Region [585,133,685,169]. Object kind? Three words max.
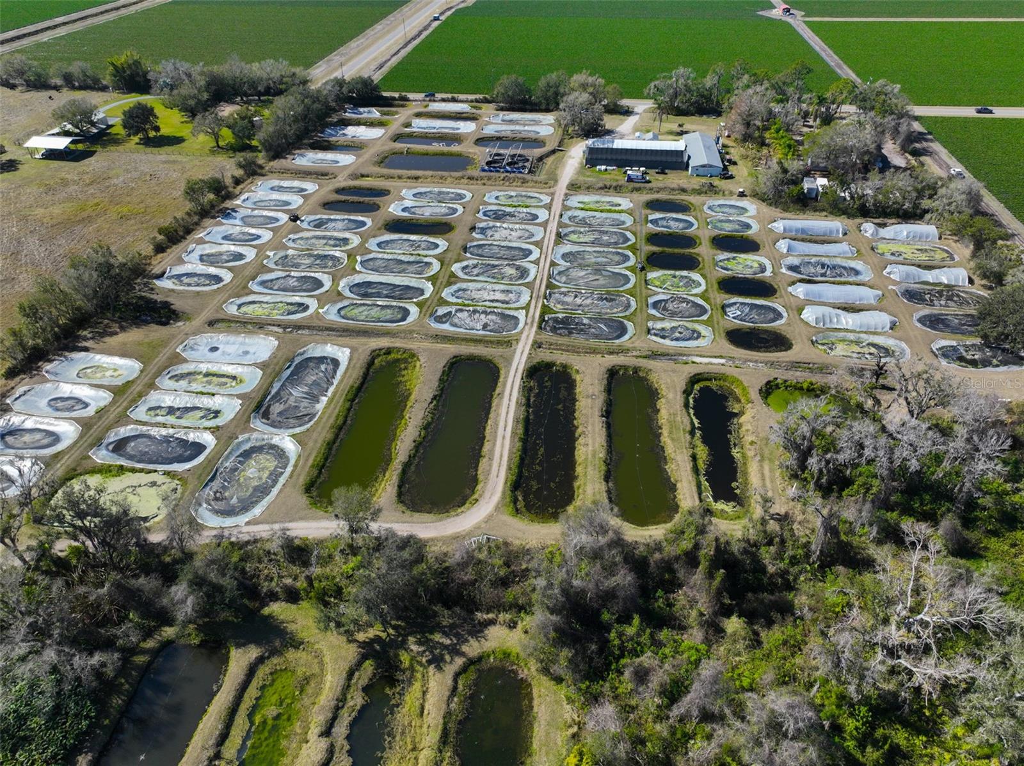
greenhouse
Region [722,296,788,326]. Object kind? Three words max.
pond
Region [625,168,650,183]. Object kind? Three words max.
vehicle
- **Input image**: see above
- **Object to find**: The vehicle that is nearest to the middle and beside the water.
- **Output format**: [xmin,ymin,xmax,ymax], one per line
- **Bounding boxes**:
[635,257,647,270]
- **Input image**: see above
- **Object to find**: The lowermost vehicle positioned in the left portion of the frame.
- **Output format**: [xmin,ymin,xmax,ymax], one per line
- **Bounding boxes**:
[286,210,301,222]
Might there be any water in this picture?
Yes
